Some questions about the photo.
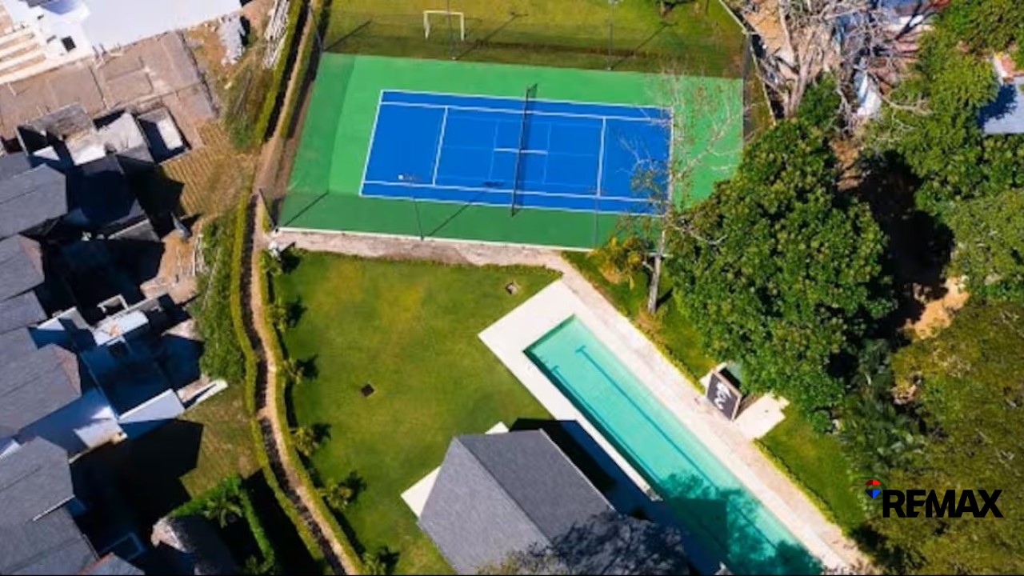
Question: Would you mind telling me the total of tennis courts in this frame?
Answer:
one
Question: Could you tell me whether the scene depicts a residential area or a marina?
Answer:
residential area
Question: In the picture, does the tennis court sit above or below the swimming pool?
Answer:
above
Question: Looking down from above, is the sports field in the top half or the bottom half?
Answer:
top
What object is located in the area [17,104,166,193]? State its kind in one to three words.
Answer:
house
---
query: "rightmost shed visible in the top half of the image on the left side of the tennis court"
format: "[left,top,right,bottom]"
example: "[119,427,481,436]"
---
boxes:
[136,108,195,177]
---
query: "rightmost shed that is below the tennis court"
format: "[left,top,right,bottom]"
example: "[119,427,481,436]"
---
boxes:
[707,372,755,420]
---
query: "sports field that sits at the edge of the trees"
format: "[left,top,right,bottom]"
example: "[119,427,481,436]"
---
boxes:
[329,0,748,76]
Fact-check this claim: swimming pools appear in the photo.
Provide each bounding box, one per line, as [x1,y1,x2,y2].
[527,315,828,576]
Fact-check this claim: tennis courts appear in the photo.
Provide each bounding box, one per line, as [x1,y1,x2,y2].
[272,53,748,260]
